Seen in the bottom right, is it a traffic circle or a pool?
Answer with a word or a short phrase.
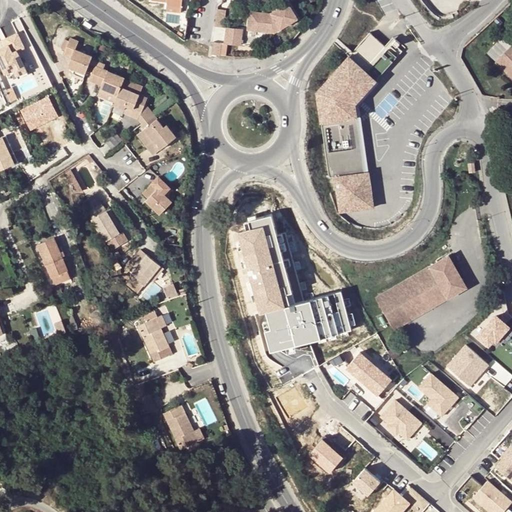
pool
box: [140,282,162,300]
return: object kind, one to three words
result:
swimming pool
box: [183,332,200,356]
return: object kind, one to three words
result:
swimming pool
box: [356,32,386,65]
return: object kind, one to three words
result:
building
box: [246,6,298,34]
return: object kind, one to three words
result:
house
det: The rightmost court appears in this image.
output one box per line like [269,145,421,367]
[276,386,308,418]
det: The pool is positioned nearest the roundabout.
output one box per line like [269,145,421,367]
[165,162,184,181]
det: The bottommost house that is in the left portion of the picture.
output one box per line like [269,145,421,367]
[162,406,204,450]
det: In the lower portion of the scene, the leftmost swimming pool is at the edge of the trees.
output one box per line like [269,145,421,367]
[36,310,55,336]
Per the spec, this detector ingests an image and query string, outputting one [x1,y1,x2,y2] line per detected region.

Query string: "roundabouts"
[201,74,300,174]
